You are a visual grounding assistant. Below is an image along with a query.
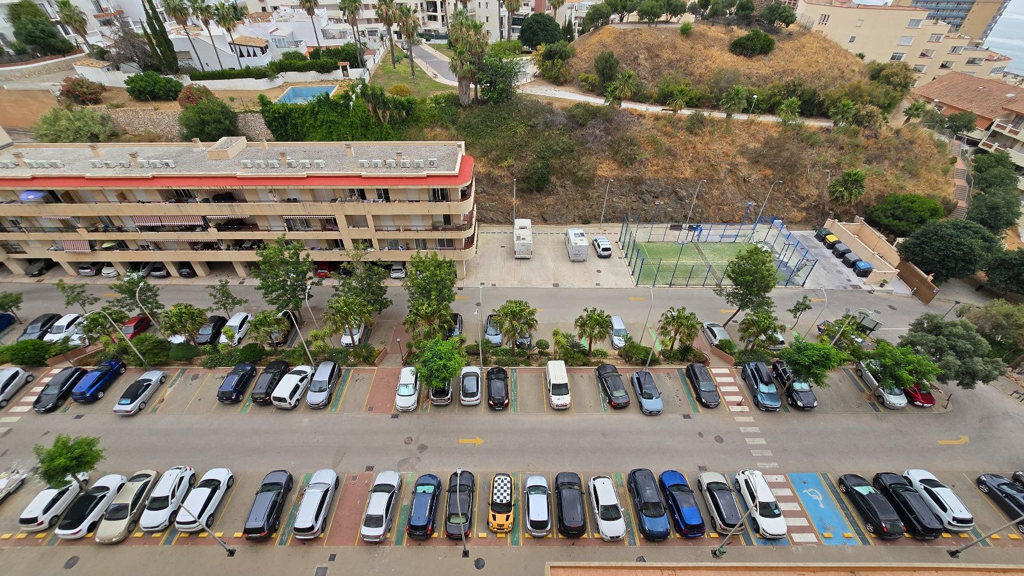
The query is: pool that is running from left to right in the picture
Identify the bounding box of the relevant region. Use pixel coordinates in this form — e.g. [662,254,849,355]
[274,85,336,103]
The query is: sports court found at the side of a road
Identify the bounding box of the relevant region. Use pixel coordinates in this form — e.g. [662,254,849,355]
[614,196,823,286]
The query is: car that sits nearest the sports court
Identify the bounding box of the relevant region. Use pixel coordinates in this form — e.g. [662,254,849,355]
[592,235,613,258]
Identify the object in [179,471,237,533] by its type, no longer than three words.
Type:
car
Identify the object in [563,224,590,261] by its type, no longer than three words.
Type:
camper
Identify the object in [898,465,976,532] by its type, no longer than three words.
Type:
car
